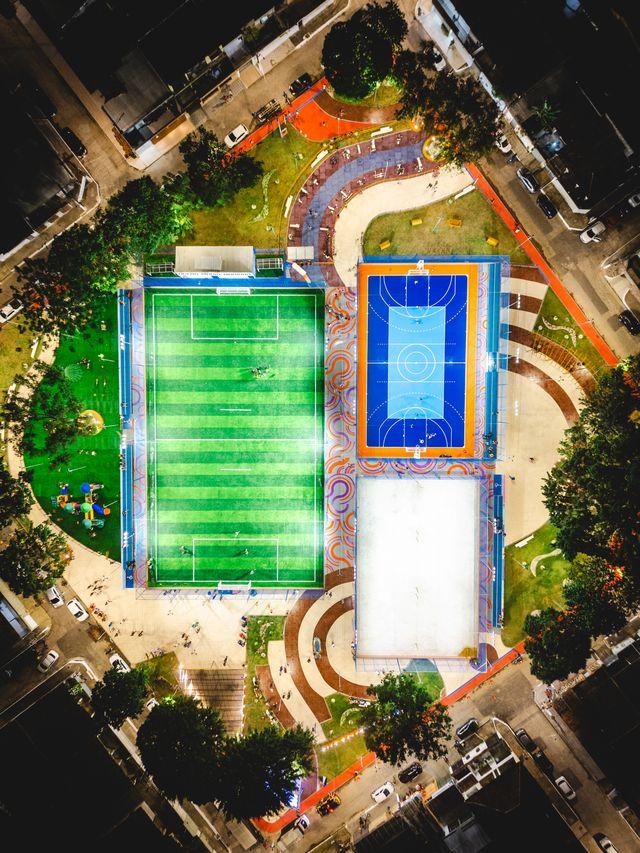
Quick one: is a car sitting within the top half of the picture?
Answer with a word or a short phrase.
Yes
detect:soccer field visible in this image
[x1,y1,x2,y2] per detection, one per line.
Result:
[145,288,325,589]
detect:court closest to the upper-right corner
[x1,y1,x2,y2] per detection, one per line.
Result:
[358,264,478,458]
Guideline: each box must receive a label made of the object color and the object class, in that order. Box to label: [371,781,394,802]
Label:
white car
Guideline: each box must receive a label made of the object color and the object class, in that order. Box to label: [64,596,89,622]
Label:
white car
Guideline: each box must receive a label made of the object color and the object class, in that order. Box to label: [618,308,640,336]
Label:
black car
